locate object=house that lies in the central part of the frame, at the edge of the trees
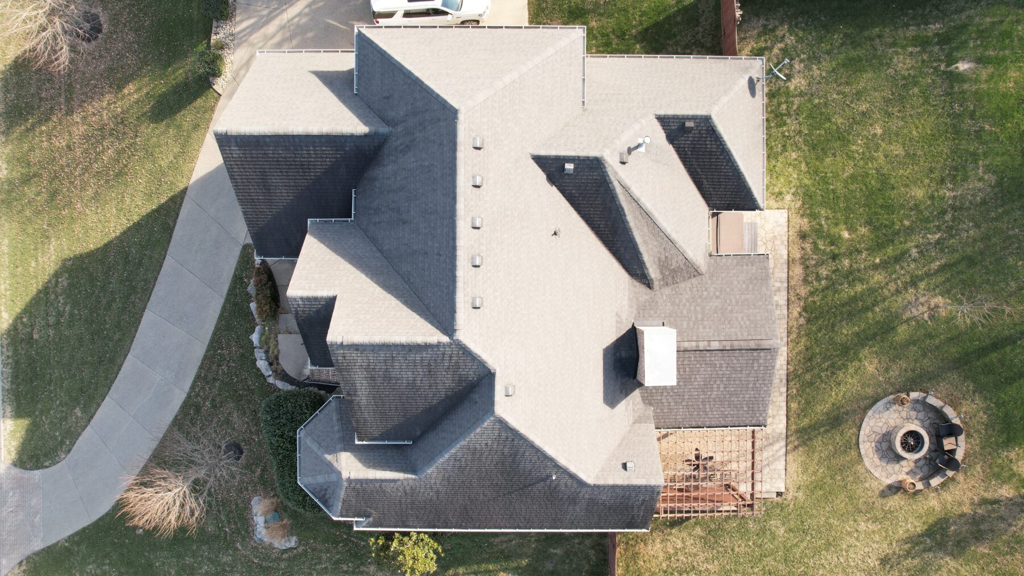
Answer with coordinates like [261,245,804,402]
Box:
[214,26,781,531]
